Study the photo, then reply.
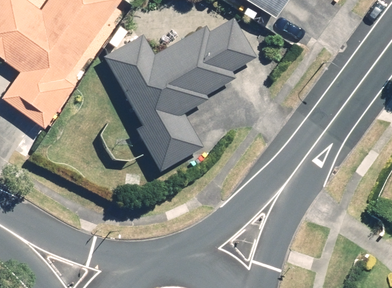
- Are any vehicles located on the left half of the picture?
No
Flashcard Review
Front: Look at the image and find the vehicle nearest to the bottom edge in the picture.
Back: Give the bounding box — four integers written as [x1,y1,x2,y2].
[272,18,306,43]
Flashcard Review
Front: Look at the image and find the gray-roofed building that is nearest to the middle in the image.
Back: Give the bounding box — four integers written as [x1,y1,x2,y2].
[103,18,258,172]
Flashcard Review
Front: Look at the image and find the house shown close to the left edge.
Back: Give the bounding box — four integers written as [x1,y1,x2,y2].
[0,0,122,130]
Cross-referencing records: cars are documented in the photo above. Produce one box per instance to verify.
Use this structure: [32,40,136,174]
[363,0,391,25]
[272,18,306,43]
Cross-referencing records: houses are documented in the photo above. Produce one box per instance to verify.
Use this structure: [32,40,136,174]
[247,0,288,18]
[0,0,122,130]
[103,18,258,172]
